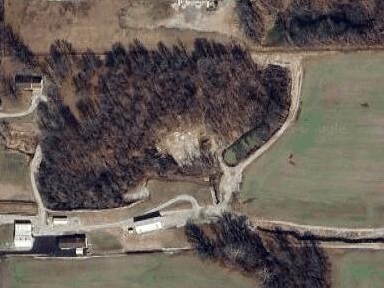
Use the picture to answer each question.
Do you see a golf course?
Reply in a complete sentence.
No, this view has no golf course in it.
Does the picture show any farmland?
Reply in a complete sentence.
Yes, farmland shows up in the scene.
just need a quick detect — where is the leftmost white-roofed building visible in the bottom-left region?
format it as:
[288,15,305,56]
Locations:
[15,223,32,247]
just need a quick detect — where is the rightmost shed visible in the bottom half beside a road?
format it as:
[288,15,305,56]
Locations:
[133,213,164,233]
